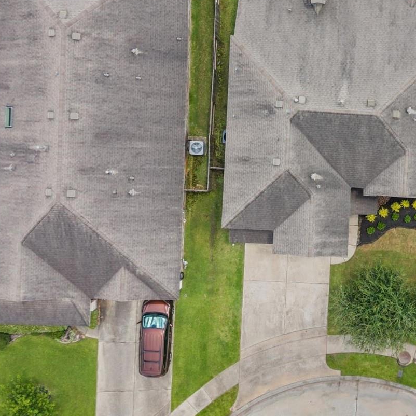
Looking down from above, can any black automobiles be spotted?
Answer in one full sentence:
No, there's no black automobile here.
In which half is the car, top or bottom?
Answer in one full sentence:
The bottom half of the photo is where the car is.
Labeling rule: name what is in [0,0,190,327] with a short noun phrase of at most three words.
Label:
house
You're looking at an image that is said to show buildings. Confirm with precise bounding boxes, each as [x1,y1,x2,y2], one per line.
[0,0,190,327]
[222,0,416,259]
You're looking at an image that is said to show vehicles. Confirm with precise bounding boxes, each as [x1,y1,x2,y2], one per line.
[134,300,173,377]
